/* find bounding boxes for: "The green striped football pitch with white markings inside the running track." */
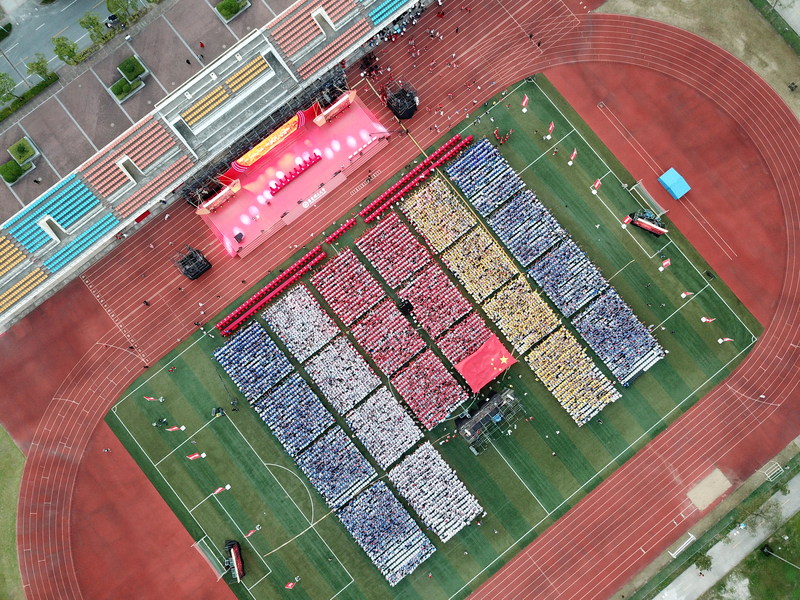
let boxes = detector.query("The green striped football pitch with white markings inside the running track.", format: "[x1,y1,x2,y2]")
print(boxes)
[103,72,765,600]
